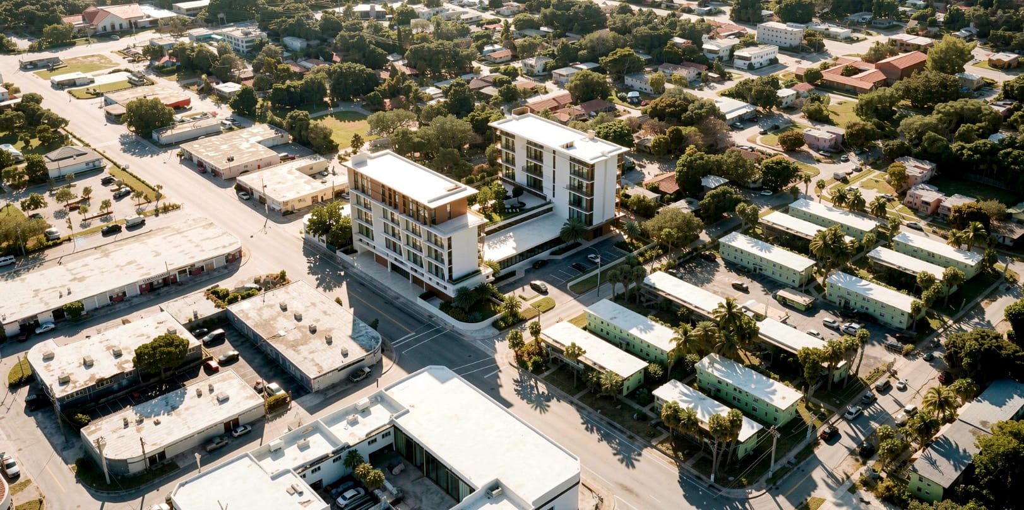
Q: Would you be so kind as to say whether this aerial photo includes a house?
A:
Yes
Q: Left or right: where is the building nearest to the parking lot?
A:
left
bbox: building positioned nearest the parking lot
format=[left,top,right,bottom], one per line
[40,150,104,180]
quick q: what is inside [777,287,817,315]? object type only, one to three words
building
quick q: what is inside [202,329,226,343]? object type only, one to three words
car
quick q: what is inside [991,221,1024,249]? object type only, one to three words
house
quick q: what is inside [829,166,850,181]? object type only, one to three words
vehicle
